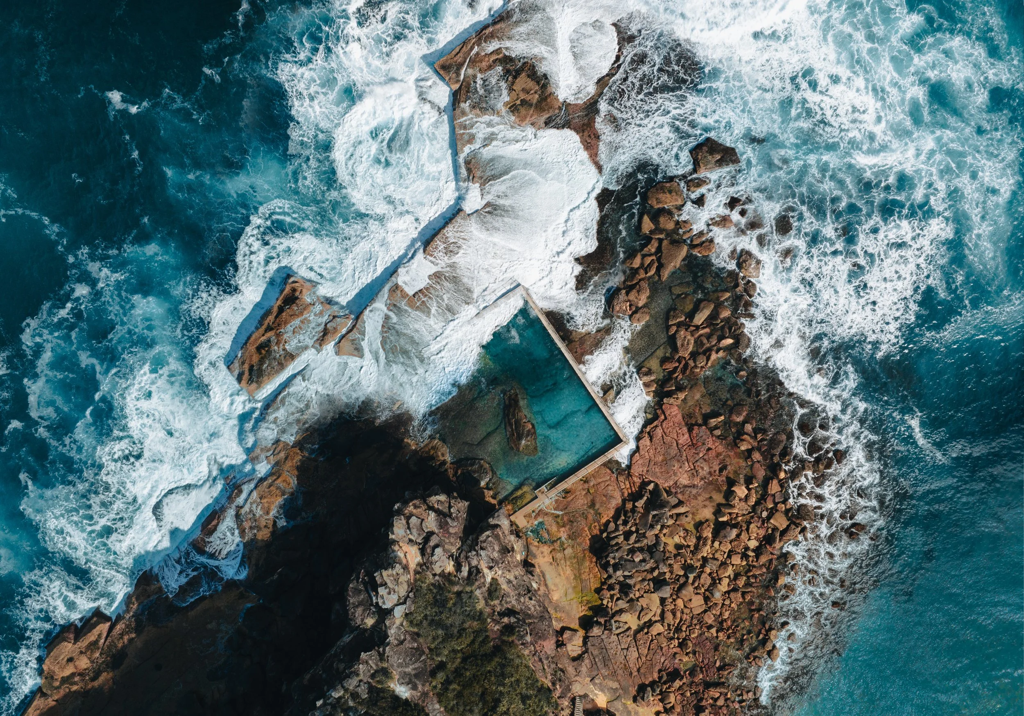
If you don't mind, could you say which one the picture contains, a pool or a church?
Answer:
pool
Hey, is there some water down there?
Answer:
Yes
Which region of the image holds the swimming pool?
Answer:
center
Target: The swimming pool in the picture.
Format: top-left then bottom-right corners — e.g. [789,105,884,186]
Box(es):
[432,293,620,508]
